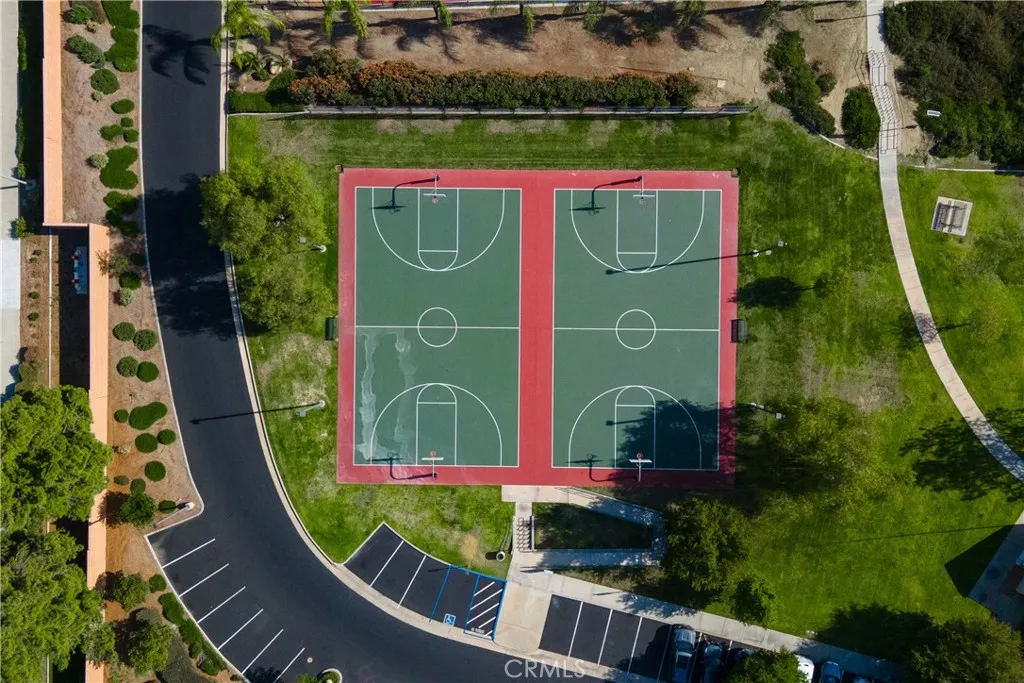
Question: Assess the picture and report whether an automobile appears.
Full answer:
Yes, the frame does contain an automobile.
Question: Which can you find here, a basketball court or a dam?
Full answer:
Of the two, only a basketball court appears.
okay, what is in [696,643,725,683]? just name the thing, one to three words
car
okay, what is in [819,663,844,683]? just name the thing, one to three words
car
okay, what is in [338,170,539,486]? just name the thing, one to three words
basketball court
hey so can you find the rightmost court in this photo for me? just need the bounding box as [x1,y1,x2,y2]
[536,172,738,489]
